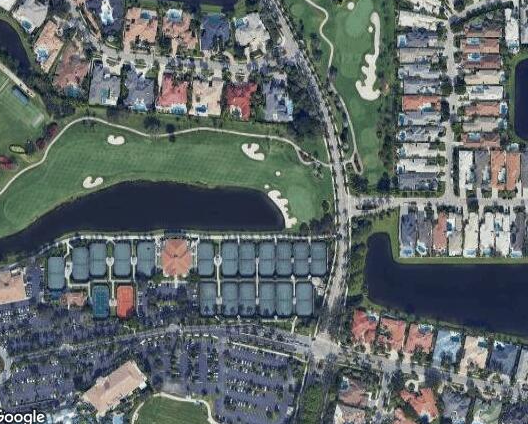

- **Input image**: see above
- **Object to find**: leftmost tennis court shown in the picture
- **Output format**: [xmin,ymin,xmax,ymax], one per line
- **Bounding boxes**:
[47,255,65,290]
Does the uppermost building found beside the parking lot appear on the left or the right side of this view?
left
